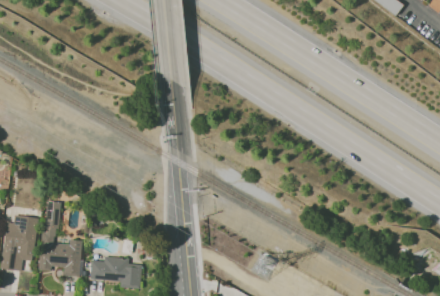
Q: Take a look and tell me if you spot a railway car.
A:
No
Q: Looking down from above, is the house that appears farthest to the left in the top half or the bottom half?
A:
bottom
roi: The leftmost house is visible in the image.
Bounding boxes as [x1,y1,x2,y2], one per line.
[2,218,39,270]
